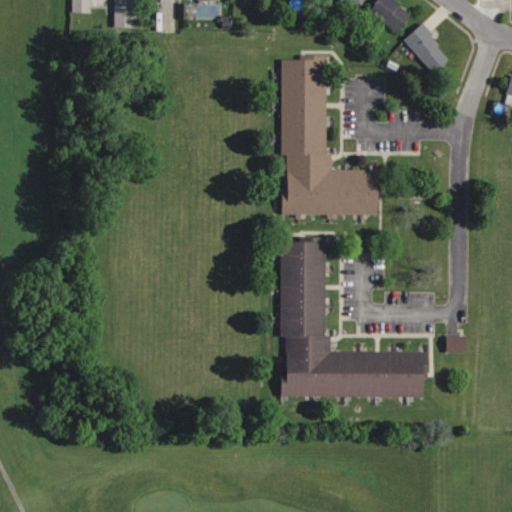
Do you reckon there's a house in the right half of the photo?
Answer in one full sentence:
Yes, a house is visible in the right half of the photo.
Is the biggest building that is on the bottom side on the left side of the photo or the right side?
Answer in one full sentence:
The biggest building that is on the bottom side appears in the right half of the scene.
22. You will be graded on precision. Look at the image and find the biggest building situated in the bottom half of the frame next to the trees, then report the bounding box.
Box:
[280,236,430,398]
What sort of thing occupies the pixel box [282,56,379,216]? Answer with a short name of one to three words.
building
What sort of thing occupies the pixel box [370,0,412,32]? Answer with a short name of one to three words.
house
